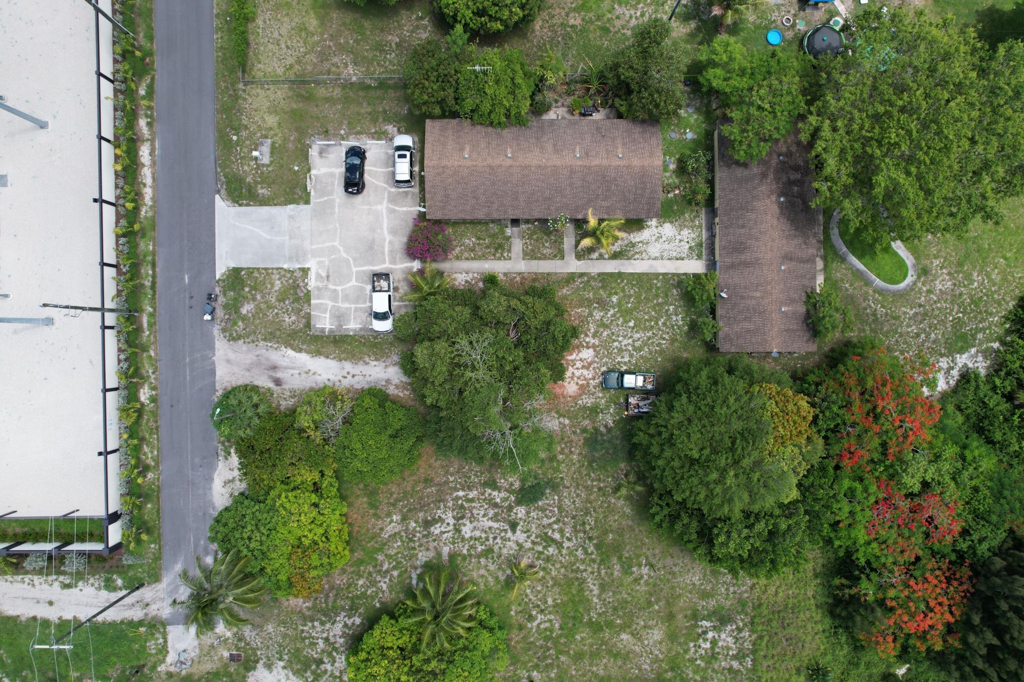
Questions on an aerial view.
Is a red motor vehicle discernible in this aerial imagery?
No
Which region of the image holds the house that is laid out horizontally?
top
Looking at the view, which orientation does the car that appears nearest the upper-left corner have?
vertically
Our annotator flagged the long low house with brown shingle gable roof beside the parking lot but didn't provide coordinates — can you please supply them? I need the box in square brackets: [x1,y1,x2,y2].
[424,118,663,220]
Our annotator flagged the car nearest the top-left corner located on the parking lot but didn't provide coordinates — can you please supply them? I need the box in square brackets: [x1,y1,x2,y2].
[341,146,366,192]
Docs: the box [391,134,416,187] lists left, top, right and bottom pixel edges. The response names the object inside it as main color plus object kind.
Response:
white car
